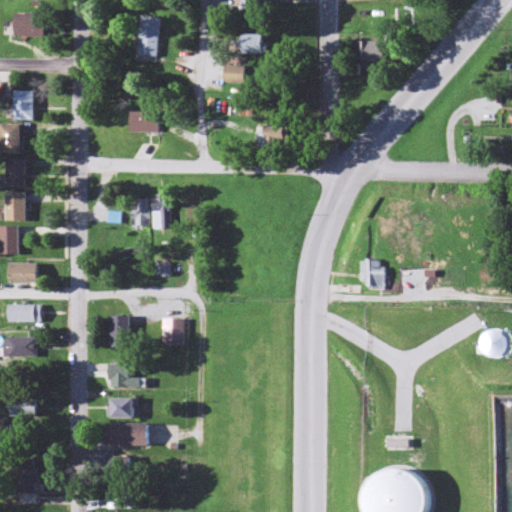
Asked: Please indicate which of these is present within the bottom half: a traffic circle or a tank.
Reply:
tank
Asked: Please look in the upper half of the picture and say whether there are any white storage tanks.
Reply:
No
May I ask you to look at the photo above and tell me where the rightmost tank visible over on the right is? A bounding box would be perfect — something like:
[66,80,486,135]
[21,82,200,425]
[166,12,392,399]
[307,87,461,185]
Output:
[474,325,512,362]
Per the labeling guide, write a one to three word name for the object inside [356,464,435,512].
storage tank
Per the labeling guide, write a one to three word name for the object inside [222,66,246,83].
building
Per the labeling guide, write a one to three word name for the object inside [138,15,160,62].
house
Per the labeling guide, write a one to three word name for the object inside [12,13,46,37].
house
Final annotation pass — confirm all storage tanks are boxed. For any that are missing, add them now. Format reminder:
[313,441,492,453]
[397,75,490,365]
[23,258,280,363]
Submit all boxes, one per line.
[356,464,435,512]
[474,325,512,362]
